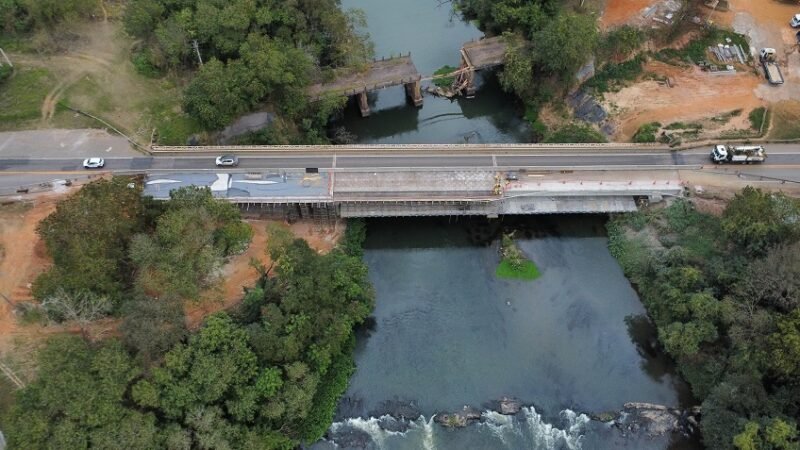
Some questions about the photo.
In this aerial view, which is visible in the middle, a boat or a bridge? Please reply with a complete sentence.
There is a bridge in the middle.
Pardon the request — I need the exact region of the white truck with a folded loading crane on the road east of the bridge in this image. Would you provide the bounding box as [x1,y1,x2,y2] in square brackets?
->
[711,146,772,165]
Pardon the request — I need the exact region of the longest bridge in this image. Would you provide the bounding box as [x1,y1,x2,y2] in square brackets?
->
[118,141,702,220]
